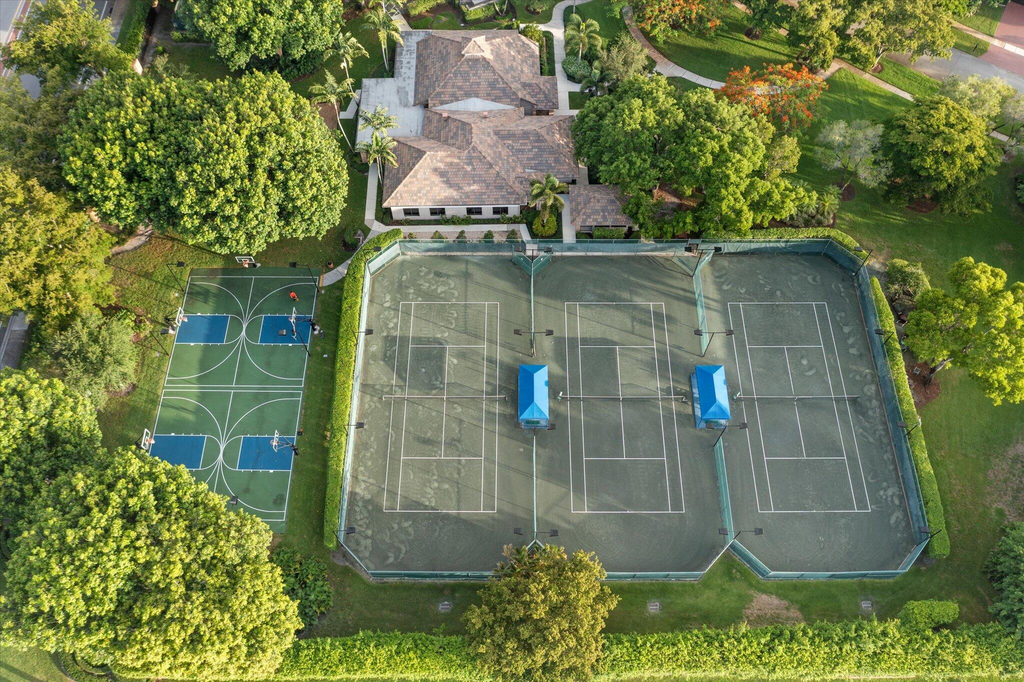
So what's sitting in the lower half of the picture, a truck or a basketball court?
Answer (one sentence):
The one visible in the lower half of the picture is a basketball court.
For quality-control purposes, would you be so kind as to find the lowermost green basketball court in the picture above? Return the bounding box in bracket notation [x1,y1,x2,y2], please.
[141,388,305,534]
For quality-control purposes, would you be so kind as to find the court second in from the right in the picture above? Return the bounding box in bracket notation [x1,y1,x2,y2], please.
[531,255,731,579]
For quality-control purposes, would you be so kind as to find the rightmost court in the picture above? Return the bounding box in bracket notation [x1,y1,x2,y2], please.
[691,255,916,578]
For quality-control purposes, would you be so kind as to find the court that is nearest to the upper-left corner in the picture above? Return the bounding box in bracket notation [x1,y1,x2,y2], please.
[162,268,321,388]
